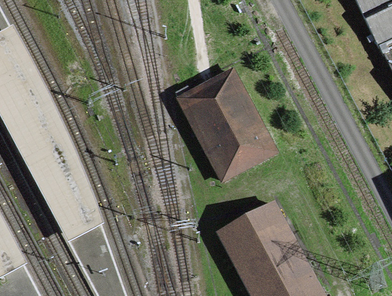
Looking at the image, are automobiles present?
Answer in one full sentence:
No, no automobile is visible in the scene.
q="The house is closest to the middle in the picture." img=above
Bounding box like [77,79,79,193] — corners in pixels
[176,68,279,182]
